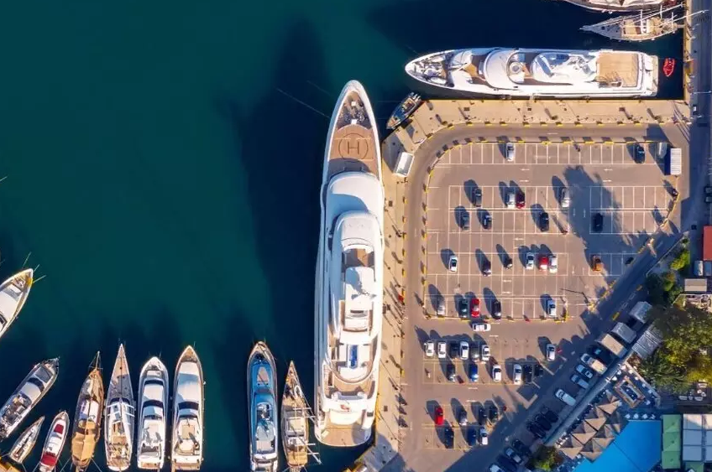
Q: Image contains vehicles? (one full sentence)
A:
Yes, a vehicle is visible in the scene.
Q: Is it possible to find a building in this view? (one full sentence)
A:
Yes, a building appears in the view.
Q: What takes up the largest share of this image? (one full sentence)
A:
The scene is dominated by water.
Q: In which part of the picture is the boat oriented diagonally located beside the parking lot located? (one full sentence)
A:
The boat oriented diagonally located beside the parking lot is located in the top region of the scene.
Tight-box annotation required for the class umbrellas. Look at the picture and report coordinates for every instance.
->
[557,433,582,458]
[597,391,623,414]
[580,437,605,461]
[662,432,681,451]
[570,418,596,444]
[606,408,631,432]
[662,451,681,468]
[662,414,681,432]
[593,422,618,447]
[584,404,609,428]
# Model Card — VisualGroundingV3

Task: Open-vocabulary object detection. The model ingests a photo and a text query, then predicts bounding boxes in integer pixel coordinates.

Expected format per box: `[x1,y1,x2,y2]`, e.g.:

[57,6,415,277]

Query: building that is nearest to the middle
[390,151,413,177]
